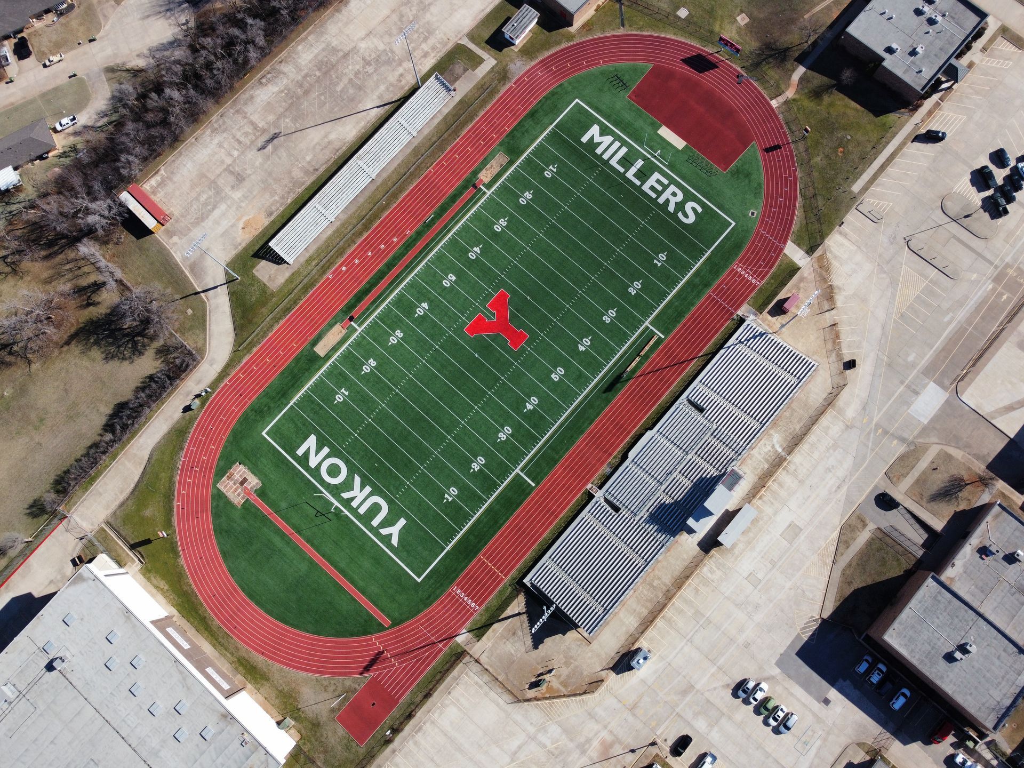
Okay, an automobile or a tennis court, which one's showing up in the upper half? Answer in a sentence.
Visible in the upper half is an automobile.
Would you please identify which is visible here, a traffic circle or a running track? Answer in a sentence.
Visible in the photo is a running track.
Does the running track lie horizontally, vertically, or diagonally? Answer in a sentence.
From this overhead view, the running track appears to run diagonally.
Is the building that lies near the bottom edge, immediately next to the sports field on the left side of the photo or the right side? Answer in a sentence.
It is on the left.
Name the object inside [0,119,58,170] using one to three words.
house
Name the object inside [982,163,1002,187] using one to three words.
vehicle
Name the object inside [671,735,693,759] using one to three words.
car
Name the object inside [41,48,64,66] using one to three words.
vehicle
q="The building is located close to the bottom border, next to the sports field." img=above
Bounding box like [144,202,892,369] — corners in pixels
[0,564,297,768]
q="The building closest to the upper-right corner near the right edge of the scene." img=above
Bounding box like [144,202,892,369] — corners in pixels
[836,0,988,105]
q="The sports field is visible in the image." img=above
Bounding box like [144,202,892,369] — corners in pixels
[211,63,764,637]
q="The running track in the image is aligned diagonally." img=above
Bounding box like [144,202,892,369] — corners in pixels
[175,33,799,747]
